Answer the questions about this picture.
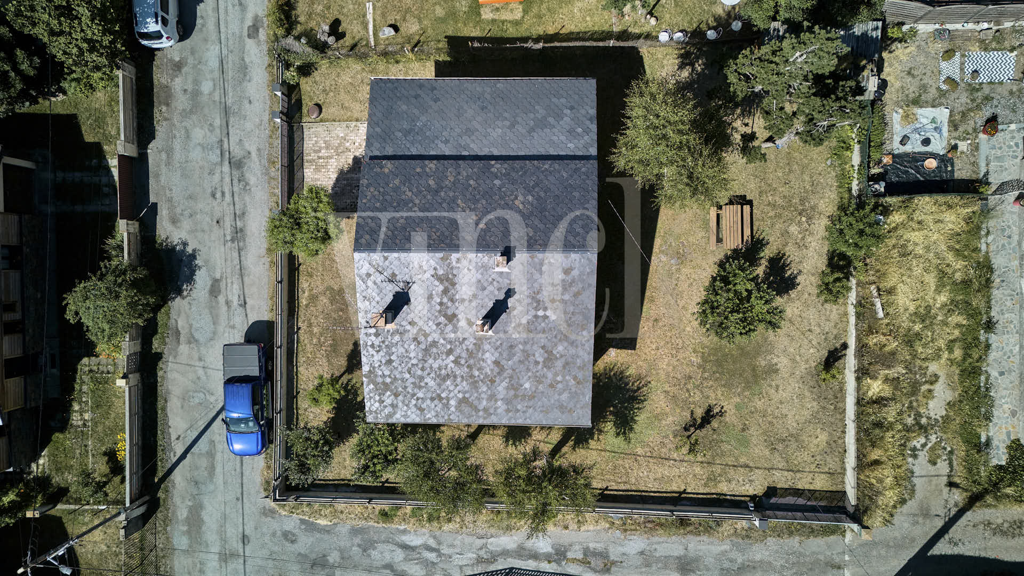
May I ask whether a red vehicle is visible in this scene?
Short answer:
No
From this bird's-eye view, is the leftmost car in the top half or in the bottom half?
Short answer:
top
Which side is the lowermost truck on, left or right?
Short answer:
left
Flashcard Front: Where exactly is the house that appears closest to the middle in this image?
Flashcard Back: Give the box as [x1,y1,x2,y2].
[332,76,599,430]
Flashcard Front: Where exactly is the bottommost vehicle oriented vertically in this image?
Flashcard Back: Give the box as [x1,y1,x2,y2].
[219,341,273,456]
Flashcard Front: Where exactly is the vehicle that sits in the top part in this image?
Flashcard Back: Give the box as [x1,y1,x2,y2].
[127,0,181,53]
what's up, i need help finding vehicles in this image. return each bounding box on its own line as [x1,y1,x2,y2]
[219,341,273,456]
[127,0,181,53]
